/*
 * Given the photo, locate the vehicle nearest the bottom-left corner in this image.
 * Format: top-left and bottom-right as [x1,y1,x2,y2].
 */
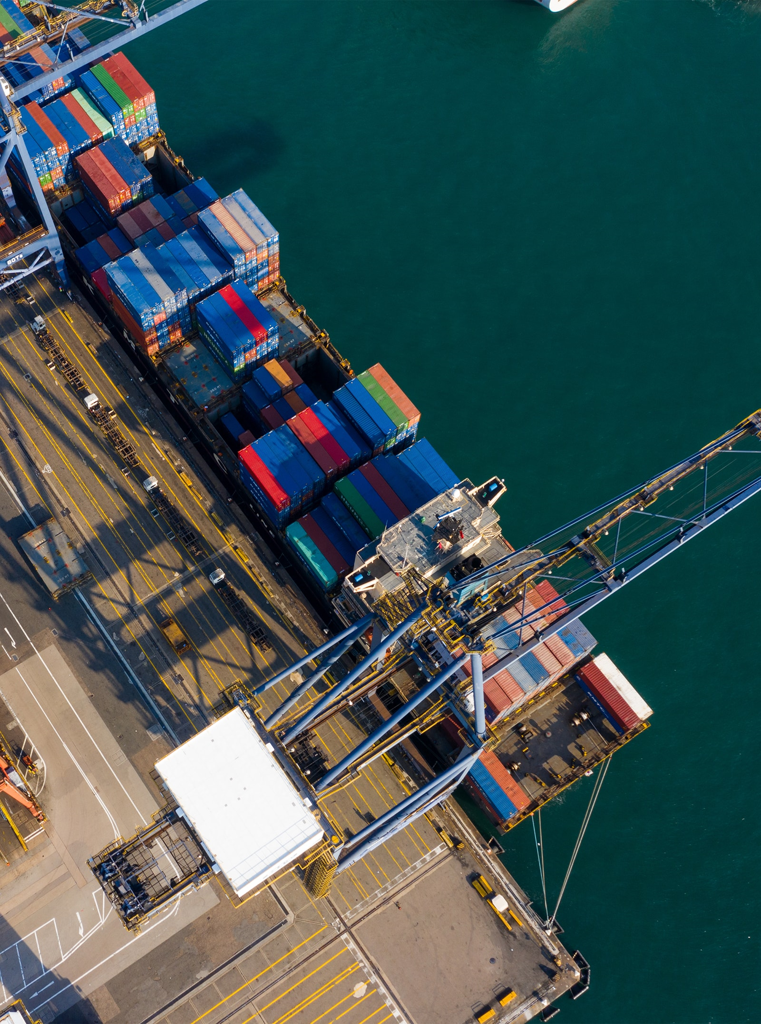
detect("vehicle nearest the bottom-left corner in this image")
[0,750,45,825]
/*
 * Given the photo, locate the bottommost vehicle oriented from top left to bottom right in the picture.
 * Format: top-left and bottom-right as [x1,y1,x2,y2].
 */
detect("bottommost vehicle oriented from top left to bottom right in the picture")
[469,863,524,940]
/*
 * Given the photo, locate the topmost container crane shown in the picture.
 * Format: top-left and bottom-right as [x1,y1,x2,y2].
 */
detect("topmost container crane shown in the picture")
[0,0,220,303]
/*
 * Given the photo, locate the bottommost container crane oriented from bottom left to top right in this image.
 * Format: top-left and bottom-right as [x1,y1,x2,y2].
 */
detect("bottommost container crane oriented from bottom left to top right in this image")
[73,406,761,951]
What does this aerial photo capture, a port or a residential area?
port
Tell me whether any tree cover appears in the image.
No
